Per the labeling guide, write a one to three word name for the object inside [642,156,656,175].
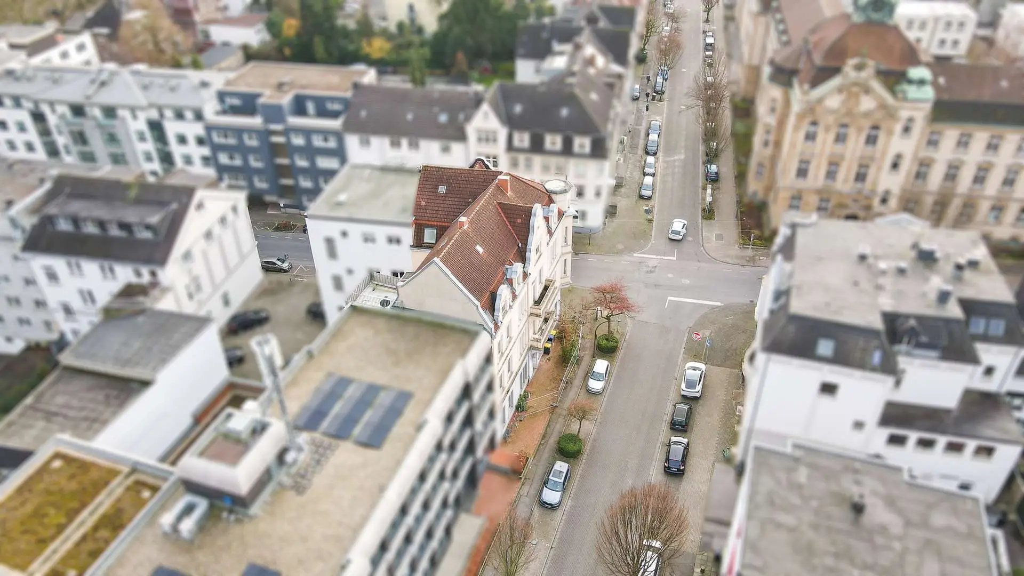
car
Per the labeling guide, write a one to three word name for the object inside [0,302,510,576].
building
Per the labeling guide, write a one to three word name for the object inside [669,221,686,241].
car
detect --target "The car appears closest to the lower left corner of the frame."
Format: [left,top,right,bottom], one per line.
[220,345,255,365]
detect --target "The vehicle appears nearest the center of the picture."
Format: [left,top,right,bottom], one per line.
[586,361,611,394]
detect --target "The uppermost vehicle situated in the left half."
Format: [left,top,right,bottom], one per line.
[291,219,311,234]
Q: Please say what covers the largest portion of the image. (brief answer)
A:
buildings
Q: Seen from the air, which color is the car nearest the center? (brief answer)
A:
white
